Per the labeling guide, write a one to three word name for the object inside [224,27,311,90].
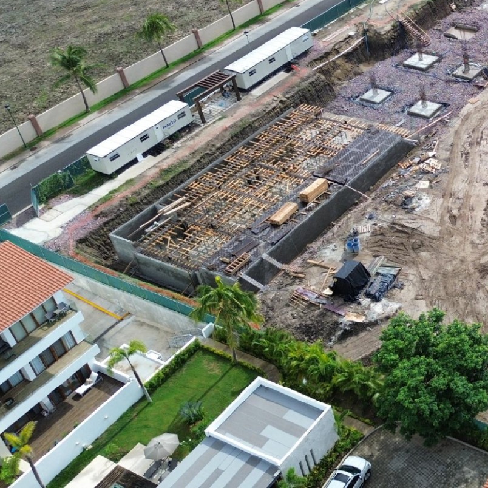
trailer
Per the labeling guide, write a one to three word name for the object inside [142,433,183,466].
umbrella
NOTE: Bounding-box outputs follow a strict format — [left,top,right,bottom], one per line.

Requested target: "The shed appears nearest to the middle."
[324,263,373,305]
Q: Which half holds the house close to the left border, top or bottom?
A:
bottom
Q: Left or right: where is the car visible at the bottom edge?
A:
right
